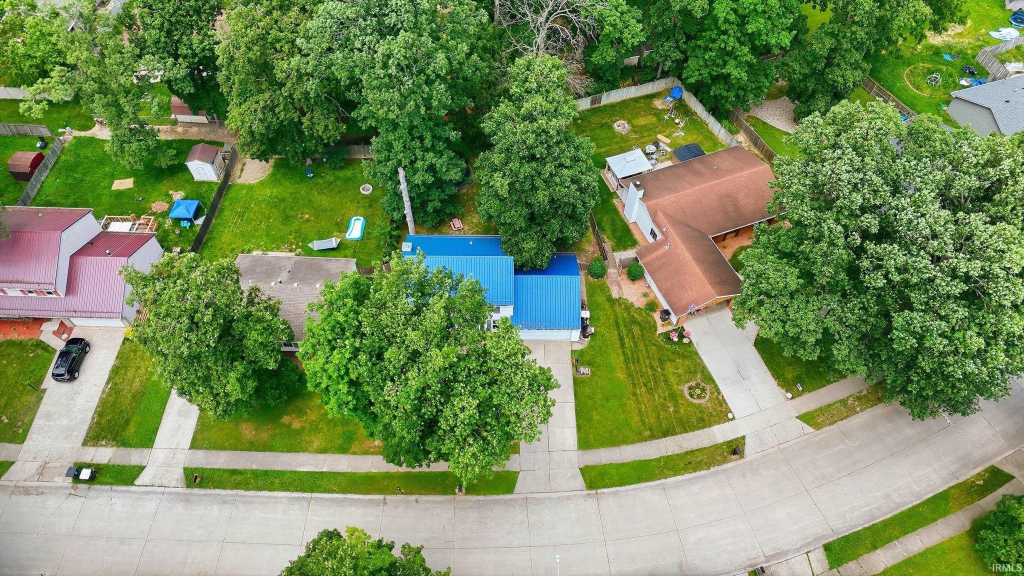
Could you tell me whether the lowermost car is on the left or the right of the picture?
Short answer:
left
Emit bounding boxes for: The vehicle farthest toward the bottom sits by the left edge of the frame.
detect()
[46,339,88,386]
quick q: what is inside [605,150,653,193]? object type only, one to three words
gazebo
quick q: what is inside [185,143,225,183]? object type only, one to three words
shed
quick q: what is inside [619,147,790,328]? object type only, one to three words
house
